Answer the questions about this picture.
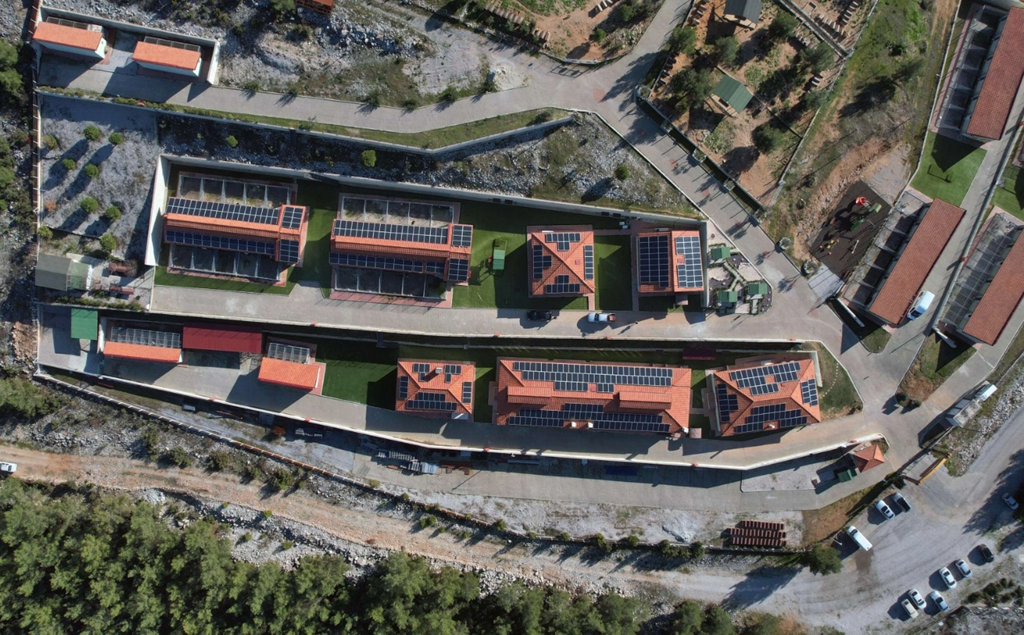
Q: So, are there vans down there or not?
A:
Yes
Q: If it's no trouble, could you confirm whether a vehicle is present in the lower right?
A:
Yes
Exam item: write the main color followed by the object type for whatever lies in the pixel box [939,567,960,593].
white car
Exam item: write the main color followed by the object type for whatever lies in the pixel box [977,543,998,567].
black car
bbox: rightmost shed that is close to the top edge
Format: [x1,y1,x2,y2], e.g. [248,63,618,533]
[916,0,1024,155]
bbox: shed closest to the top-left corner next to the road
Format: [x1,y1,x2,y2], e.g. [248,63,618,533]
[33,13,109,55]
